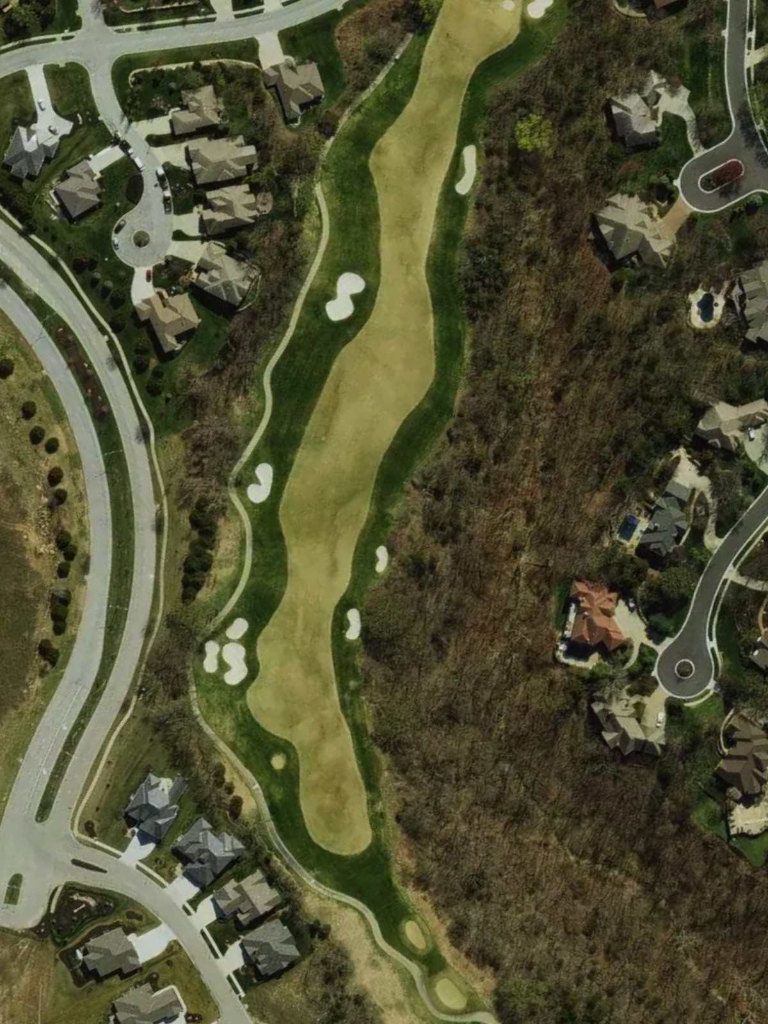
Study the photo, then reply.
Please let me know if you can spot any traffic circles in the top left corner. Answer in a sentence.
Yes, you'll find a traffic circle in the top left corner.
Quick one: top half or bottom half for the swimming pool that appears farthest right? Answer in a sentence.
It is in the top half that the swimming pool that appears farthest right appears.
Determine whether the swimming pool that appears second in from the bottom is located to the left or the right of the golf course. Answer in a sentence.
The golf course has the swimming pool that appears second in from the bottom on its right side.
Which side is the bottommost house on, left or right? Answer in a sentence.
You can find the bottommost house on the left side of the picture.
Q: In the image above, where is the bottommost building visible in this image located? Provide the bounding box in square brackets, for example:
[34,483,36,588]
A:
[107,983,183,1024]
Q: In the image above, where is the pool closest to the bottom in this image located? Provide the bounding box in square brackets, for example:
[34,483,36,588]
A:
[555,602,600,669]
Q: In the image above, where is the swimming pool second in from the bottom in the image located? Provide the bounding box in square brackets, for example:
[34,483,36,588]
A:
[615,508,649,554]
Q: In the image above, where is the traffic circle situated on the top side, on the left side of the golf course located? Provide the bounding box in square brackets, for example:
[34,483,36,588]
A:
[114,214,168,266]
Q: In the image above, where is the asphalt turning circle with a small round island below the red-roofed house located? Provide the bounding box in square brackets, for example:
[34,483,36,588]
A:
[659,644,712,696]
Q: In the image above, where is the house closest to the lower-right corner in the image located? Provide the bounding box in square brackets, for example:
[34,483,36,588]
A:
[723,709,768,793]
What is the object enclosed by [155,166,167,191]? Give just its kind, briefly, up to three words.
vehicle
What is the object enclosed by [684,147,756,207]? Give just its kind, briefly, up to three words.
roundabout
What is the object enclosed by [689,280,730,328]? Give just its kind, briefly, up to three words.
swimming pool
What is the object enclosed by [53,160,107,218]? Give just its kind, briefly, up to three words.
house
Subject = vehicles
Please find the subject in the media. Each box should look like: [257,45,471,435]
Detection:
[119,139,133,156]
[48,125,59,136]
[155,166,167,191]
[112,238,120,250]
[37,99,46,111]
[626,597,634,609]
[656,713,663,727]
[146,269,151,282]
[115,220,125,233]
[165,191,172,214]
